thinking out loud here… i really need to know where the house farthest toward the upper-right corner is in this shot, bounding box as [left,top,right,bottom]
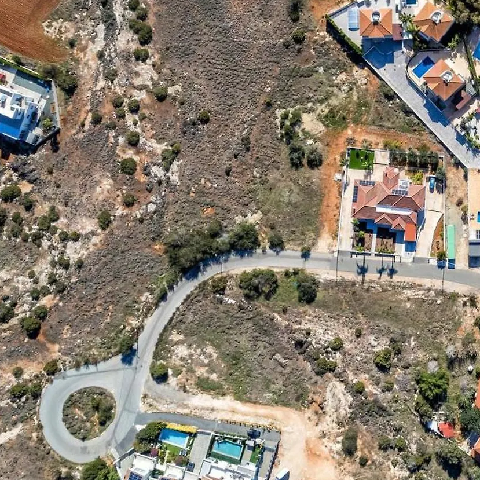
[413,2,453,41]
